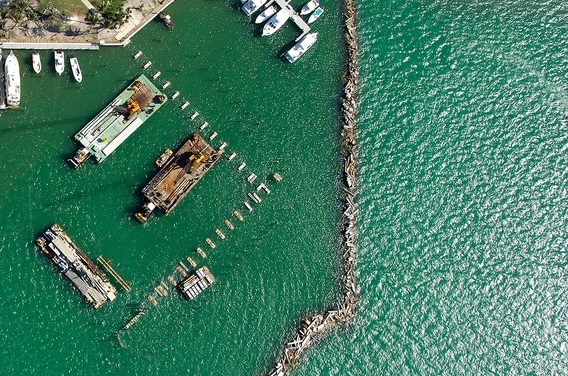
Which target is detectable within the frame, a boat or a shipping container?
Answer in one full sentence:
The image shows a boat.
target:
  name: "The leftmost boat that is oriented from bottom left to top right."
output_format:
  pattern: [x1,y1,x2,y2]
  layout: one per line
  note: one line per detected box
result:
[66,144,92,168]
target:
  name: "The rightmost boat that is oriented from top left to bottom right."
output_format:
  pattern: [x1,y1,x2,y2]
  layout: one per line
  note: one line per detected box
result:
[158,14,173,30]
